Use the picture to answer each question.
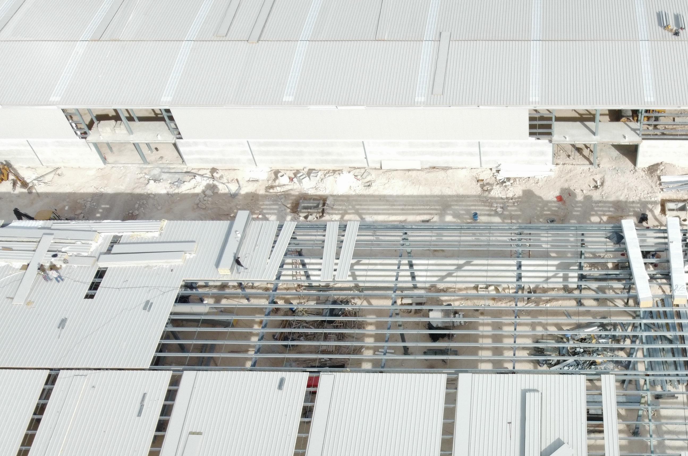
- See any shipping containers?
No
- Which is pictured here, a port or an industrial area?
industrial area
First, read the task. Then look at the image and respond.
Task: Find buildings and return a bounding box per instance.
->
[0,220,688,456]
[0,0,688,168]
